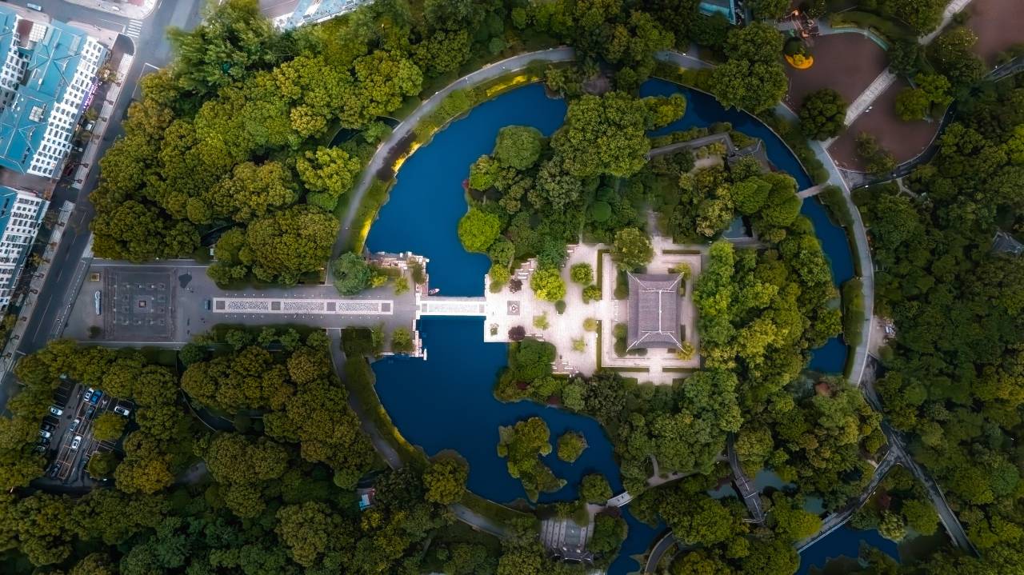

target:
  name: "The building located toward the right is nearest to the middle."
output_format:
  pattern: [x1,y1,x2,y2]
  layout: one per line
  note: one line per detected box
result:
[623,271,685,353]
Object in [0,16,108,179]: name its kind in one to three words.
building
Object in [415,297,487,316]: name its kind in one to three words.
bridge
